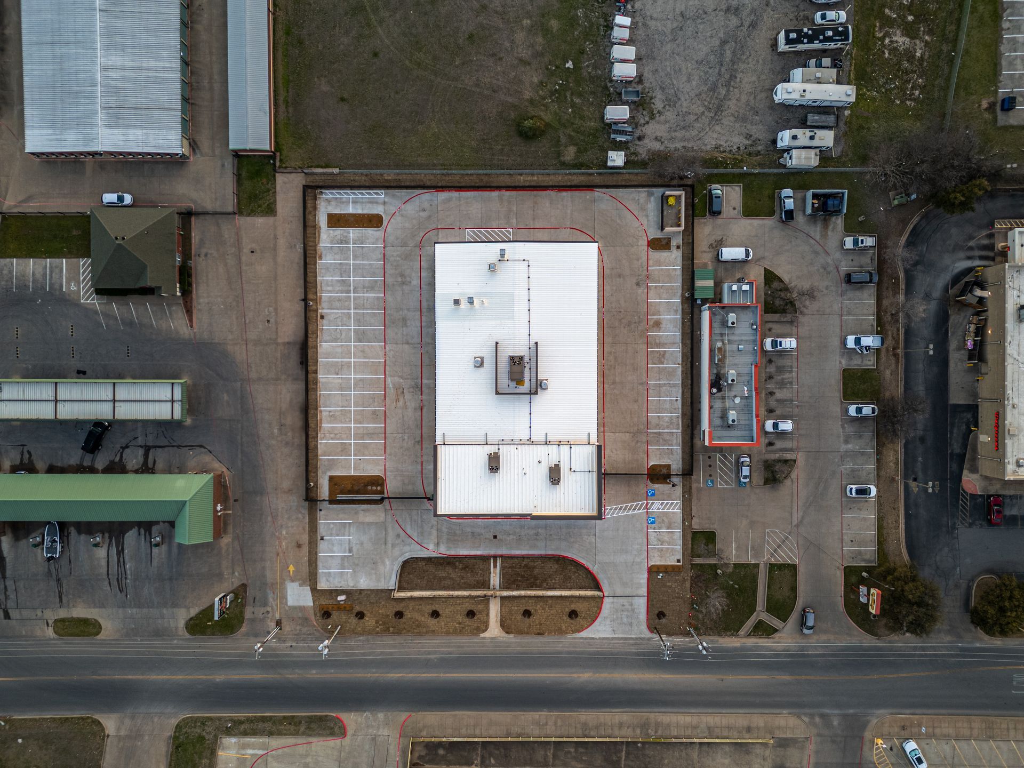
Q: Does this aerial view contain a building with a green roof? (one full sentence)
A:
Yes, you can see a building with a green roof in this photo.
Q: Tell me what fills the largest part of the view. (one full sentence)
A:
The largest share of the image is taken up by paved ground.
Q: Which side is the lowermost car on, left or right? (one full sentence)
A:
The lowermost car appears in the right half of the scene.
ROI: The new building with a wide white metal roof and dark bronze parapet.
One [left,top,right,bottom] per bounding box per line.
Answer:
[434,241,602,520]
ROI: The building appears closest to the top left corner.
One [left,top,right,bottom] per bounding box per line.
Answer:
[25,0,190,161]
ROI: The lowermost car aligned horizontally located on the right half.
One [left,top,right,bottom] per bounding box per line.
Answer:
[845,484,876,498]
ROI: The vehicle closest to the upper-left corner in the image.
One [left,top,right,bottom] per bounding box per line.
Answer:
[102,192,134,206]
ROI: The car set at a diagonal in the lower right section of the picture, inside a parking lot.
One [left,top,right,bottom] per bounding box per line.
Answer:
[903,738,927,768]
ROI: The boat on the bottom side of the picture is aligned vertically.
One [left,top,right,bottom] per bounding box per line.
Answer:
[46,522,60,562]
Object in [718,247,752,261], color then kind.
white vehicle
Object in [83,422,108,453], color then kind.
black truck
